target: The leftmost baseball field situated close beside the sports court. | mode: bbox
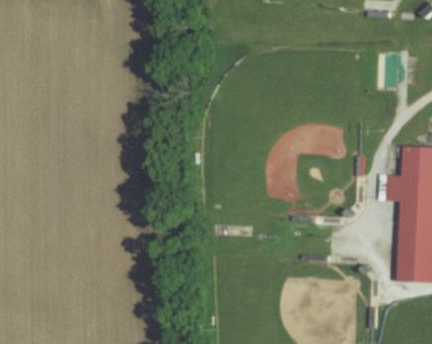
[202,47,366,220]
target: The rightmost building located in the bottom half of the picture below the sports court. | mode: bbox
[378,147,432,282]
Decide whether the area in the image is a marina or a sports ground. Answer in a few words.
sports ground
